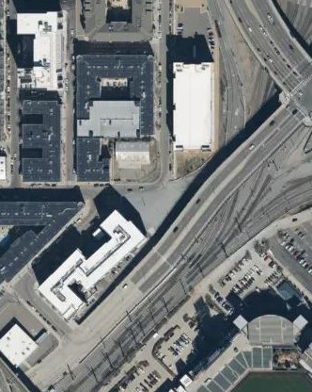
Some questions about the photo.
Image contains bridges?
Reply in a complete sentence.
Yes, the image includes a bridge.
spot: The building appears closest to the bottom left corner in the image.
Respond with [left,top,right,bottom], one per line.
[0,324,39,367]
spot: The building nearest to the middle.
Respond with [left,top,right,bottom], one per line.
[116,141,150,168]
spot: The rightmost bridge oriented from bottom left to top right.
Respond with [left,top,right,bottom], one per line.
[77,104,305,340]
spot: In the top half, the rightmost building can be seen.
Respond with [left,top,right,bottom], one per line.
[173,62,216,149]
